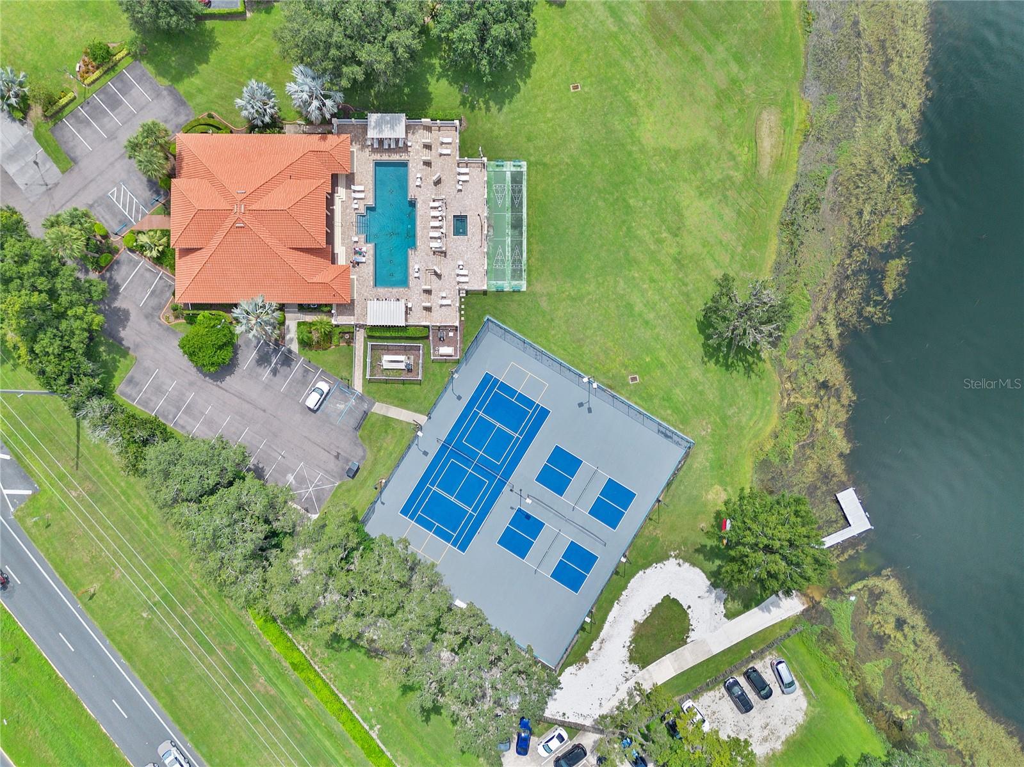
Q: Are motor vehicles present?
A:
Yes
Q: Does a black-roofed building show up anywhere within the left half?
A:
No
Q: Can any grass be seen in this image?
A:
Yes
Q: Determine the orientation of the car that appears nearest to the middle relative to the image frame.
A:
diagonally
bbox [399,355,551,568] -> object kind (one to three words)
tennis court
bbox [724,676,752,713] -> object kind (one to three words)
car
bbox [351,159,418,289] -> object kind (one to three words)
swimming pool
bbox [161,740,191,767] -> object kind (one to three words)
car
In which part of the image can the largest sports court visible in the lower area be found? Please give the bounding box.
[364,320,691,671]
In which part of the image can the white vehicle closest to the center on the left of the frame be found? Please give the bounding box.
[305,380,331,411]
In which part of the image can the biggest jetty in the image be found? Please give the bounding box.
[821,486,875,547]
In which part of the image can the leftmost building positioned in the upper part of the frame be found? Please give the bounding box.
[170,132,356,303]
